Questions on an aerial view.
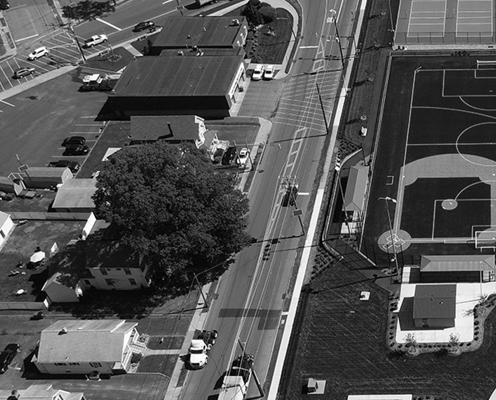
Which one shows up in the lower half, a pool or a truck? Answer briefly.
truck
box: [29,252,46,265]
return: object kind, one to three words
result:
umbrella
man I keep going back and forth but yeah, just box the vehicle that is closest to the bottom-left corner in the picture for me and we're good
[0,345,20,374]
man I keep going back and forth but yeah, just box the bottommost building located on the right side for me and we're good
[414,286,456,327]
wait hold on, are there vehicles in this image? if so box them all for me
[13,67,36,78]
[64,146,88,156]
[263,64,276,81]
[236,148,251,164]
[252,64,266,81]
[61,135,86,147]
[134,22,154,32]
[280,185,299,207]
[223,146,238,164]
[187,331,222,373]
[82,36,109,47]
[0,0,10,8]
[77,75,110,91]
[218,357,253,400]
[0,345,20,374]
[28,45,50,59]
[49,158,81,171]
